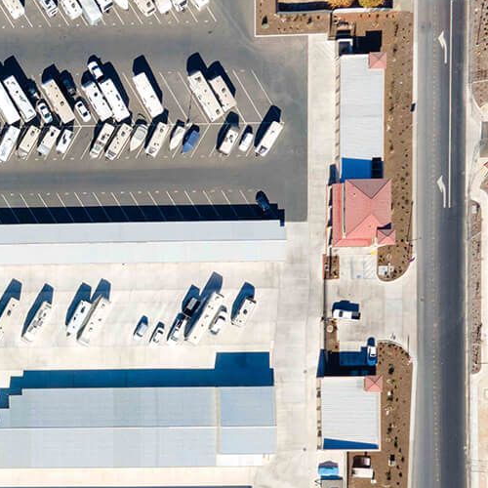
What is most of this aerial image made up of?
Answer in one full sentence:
What you mostly see from above here is paved ground.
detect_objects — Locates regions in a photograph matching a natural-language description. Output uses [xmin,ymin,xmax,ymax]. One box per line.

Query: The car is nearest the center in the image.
[254,193,271,212]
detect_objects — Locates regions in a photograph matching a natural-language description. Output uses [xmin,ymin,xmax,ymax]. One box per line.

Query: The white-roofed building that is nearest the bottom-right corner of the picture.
[314,376,383,450]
